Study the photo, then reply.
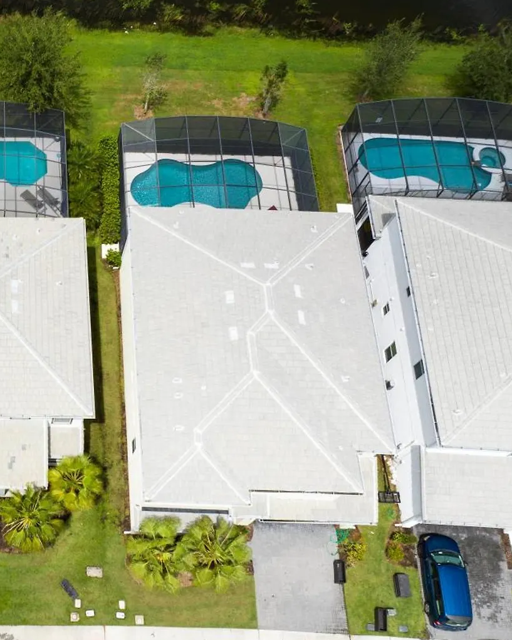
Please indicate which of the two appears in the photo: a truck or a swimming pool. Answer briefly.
swimming pool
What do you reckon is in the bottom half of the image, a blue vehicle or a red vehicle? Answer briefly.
blue vehicle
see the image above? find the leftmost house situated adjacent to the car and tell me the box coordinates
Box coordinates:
[121,206,397,546]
